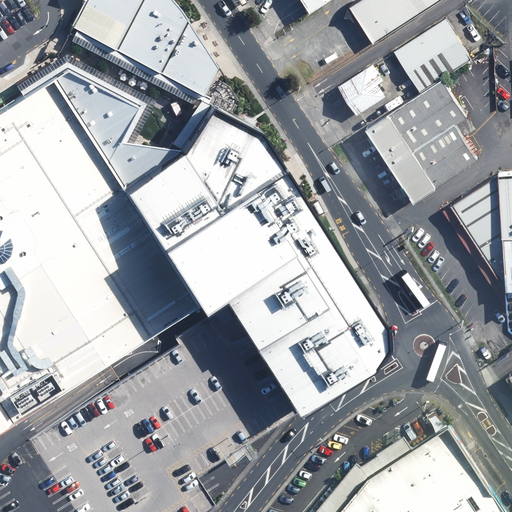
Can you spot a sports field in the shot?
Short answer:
No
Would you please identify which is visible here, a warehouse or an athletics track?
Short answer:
warehouse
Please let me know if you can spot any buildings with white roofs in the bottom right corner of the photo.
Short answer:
Yes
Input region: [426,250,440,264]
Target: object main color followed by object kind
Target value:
white vehicle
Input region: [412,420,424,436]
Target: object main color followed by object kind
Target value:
red vehicle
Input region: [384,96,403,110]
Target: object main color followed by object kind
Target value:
white camper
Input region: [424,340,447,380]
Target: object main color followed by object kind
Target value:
white bus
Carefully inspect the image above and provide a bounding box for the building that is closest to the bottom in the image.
[314,424,506,512]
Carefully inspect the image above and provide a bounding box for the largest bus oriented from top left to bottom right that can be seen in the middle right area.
[400,272,429,308]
